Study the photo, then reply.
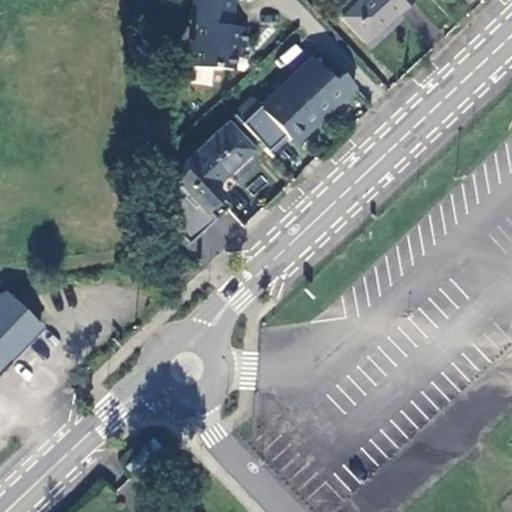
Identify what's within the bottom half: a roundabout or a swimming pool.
roundabout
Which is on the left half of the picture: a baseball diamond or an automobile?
automobile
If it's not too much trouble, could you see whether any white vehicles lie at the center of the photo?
No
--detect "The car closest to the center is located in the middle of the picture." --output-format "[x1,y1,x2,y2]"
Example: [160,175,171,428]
[221,278,242,298]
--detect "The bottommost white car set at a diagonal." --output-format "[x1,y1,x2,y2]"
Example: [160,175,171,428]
[14,362,34,382]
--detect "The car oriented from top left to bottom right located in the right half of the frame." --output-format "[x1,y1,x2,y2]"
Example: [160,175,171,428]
[349,460,368,480]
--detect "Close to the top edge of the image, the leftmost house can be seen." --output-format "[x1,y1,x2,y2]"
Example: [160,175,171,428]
[192,0,248,67]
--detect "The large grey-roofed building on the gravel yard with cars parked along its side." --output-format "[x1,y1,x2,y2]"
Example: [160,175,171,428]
[0,291,46,374]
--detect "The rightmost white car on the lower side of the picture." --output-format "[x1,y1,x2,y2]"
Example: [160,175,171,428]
[42,330,60,350]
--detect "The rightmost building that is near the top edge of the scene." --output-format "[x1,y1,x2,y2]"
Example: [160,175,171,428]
[341,0,416,48]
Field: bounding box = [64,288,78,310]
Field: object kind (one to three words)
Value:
vehicle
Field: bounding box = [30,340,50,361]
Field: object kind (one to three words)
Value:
car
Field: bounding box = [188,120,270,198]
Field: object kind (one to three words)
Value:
house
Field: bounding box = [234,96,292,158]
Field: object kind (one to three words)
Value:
house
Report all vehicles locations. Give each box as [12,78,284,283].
[30,340,50,361]
[349,460,368,480]
[273,44,300,70]
[52,294,64,314]
[260,12,280,22]
[14,362,34,382]
[64,288,78,310]
[42,330,60,350]
[221,278,242,298]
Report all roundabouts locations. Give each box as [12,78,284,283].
[95,271,259,458]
